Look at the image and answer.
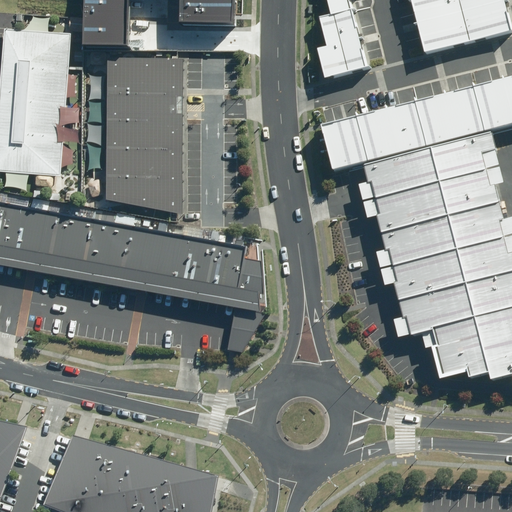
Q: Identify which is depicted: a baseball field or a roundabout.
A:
roundabout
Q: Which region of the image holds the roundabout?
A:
bottom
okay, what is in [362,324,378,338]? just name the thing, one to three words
car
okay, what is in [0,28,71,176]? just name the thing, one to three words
building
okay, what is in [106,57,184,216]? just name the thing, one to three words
building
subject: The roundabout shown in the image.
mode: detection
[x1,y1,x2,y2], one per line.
[226,356,390,486]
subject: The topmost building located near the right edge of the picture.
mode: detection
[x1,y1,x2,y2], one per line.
[408,0,512,54]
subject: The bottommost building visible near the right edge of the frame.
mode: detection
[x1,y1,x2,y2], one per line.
[358,130,512,380]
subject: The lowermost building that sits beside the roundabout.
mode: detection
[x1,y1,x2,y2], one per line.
[44,436,218,512]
